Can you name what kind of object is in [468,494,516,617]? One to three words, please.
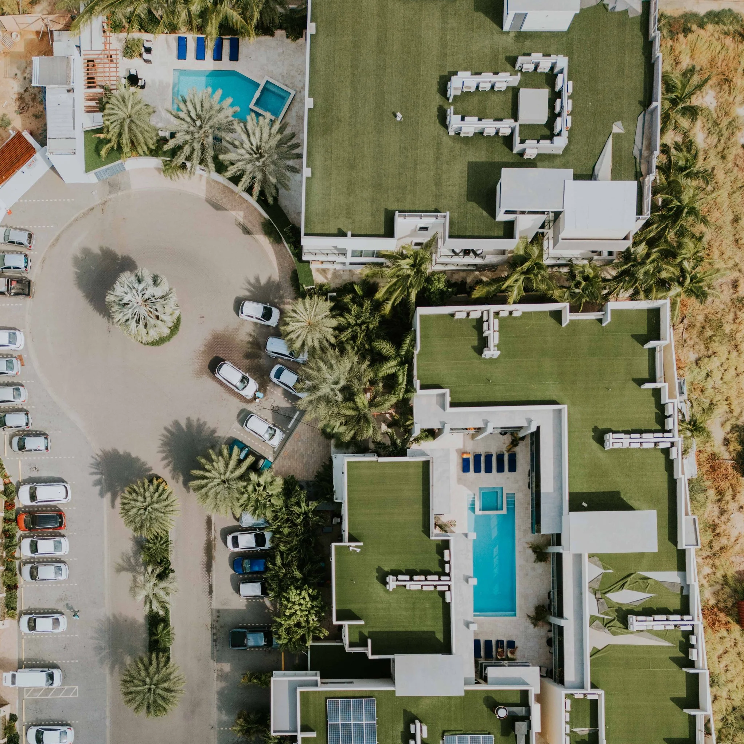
swimming pool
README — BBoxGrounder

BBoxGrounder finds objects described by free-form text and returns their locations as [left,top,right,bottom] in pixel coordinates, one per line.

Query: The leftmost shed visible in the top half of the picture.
[0,133,46,185]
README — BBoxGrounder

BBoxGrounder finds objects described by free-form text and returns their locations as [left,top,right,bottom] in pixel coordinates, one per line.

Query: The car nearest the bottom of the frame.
[27,725,74,744]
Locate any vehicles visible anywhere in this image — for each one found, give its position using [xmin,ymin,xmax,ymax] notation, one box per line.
[227,529,273,552]
[0,386,28,406]
[237,299,281,328]
[0,328,24,349]
[0,224,36,250]
[27,725,74,744]
[20,612,66,635]
[267,362,309,399]
[0,357,20,377]
[241,411,286,450]
[0,250,31,275]
[237,579,276,599]
[0,275,36,300]
[4,667,63,689]
[211,357,260,401]
[18,509,65,533]
[0,408,32,431]
[21,535,69,558]
[233,555,272,577]
[12,432,51,453]
[19,481,70,505]
[228,432,273,472]
[21,560,69,584]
